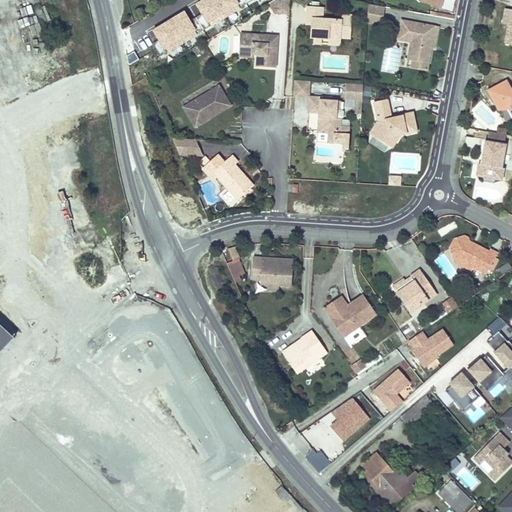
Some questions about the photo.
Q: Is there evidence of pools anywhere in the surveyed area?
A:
Yes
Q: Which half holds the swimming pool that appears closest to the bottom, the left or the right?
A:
right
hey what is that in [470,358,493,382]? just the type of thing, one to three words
house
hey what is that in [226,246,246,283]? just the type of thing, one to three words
shed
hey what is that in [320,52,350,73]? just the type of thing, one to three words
swimming pool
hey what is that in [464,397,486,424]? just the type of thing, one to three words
swimming pool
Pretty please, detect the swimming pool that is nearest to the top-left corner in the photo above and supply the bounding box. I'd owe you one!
[208,28,240,61]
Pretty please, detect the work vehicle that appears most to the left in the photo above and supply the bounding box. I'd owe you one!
[59,192,72,220]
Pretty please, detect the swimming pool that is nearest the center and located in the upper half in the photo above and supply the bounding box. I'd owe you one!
[199,176,224,207]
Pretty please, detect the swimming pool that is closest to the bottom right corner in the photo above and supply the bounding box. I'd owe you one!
[456,467,481,490]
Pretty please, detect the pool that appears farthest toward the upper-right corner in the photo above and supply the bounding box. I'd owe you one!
[472,100,504,130]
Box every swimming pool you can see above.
[489,382,507,398]
[199,176,224,207]
[434,252,458,280]
[464,397,486,424]
[472,100,504,130]
[456,467,481,490]
[208,28,240,61]
[313,144,344,164]
[320,52,350,73]
[389,152,421,174]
